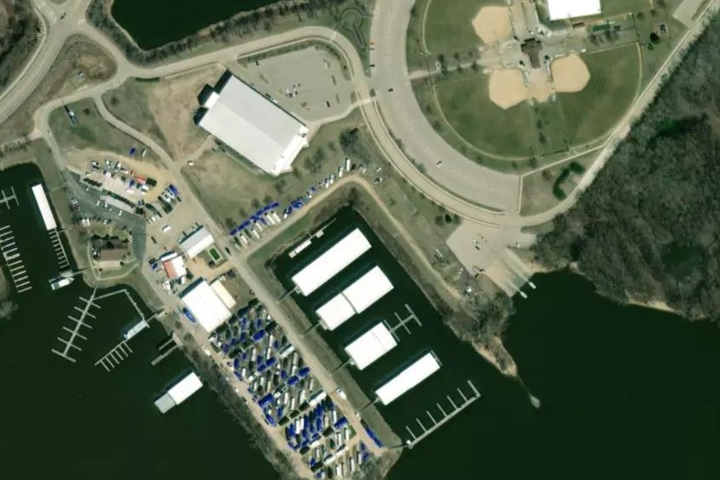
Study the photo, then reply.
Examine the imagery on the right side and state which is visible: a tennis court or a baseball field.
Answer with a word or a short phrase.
baseball field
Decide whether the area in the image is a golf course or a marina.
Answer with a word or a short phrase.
marina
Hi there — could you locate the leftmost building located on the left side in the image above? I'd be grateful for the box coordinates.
[92,241,129,261]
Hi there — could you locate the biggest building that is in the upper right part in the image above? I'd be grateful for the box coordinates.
[523,40,543,68]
